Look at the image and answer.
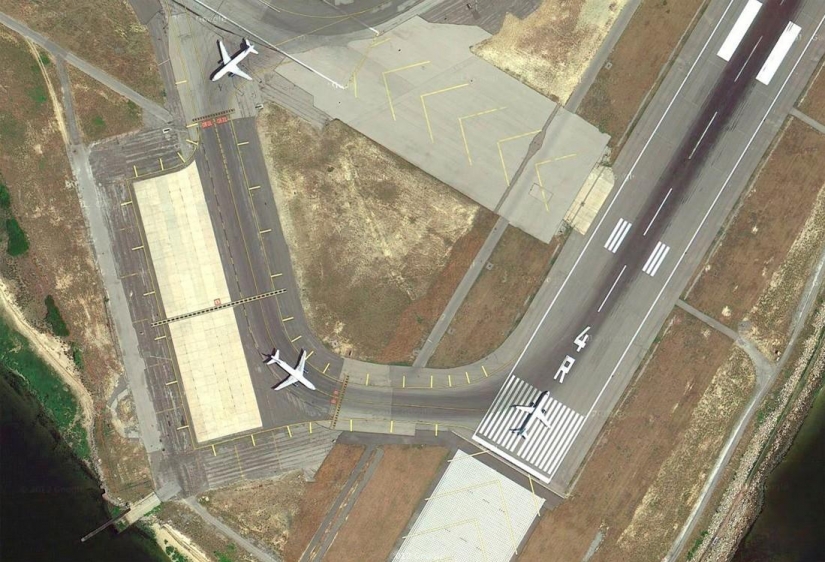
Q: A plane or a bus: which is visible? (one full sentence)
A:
The image shows a plane.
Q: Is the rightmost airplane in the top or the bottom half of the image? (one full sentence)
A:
The rightmost airplane is in the bottom half of the image.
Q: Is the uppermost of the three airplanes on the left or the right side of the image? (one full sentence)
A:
You can find the uppermost of the three airplanes on the left side of the picture.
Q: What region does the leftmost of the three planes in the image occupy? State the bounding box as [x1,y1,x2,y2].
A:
[212,39,260,81]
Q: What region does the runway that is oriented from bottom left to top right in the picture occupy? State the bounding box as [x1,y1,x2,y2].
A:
[452,0,825,497]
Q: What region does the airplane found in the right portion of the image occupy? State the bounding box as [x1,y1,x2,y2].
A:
[516,391,553,436]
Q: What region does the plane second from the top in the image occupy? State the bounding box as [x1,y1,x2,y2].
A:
[265,349,316,391]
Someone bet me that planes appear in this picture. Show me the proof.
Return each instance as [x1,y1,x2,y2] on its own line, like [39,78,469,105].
[212,39,260,81]
[516,391,553,436]
[265,349,316,391]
